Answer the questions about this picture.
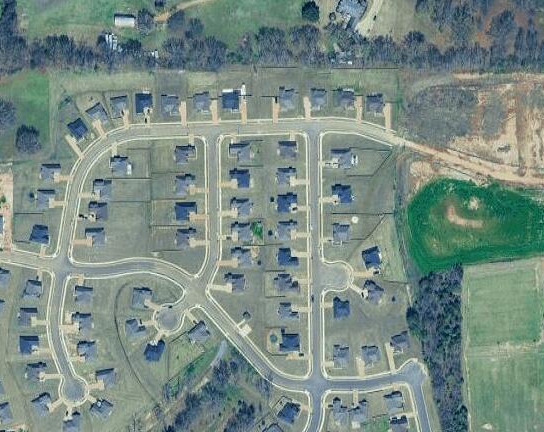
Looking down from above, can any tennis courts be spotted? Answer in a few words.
No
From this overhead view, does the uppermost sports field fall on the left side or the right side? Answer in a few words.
right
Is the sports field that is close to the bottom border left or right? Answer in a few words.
right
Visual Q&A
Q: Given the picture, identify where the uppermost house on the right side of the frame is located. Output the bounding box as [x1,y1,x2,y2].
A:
[334,0,367,21]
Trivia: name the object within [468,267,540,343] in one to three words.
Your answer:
sports field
